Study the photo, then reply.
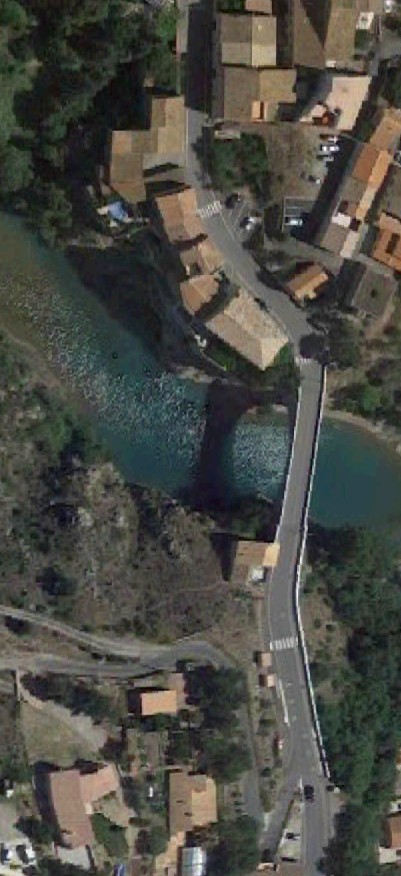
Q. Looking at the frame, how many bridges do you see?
1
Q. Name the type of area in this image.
residential area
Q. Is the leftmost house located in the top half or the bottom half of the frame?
bottom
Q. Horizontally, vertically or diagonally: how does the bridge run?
vertically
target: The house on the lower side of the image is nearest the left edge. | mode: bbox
[48,766,120,870]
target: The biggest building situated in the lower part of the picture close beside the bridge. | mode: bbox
[226,541,280,578]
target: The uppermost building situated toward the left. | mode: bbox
[103,97,186,201]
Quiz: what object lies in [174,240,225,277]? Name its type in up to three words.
house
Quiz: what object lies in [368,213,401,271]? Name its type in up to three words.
house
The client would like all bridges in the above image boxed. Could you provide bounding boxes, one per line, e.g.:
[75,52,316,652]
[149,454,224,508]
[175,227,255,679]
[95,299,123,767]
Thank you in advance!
[268,361,325,545]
